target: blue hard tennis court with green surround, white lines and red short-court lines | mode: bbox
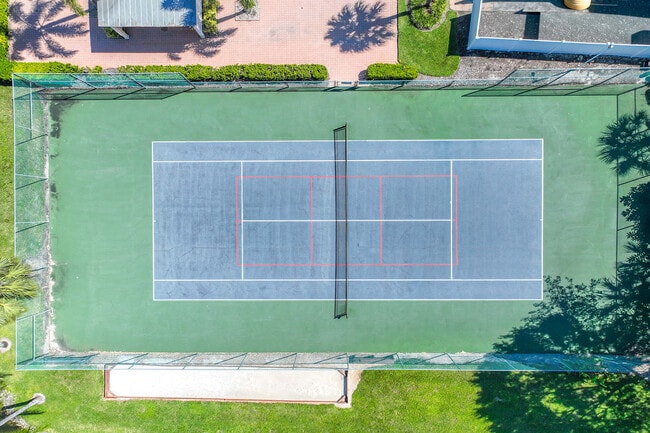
[46,85,650,352]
